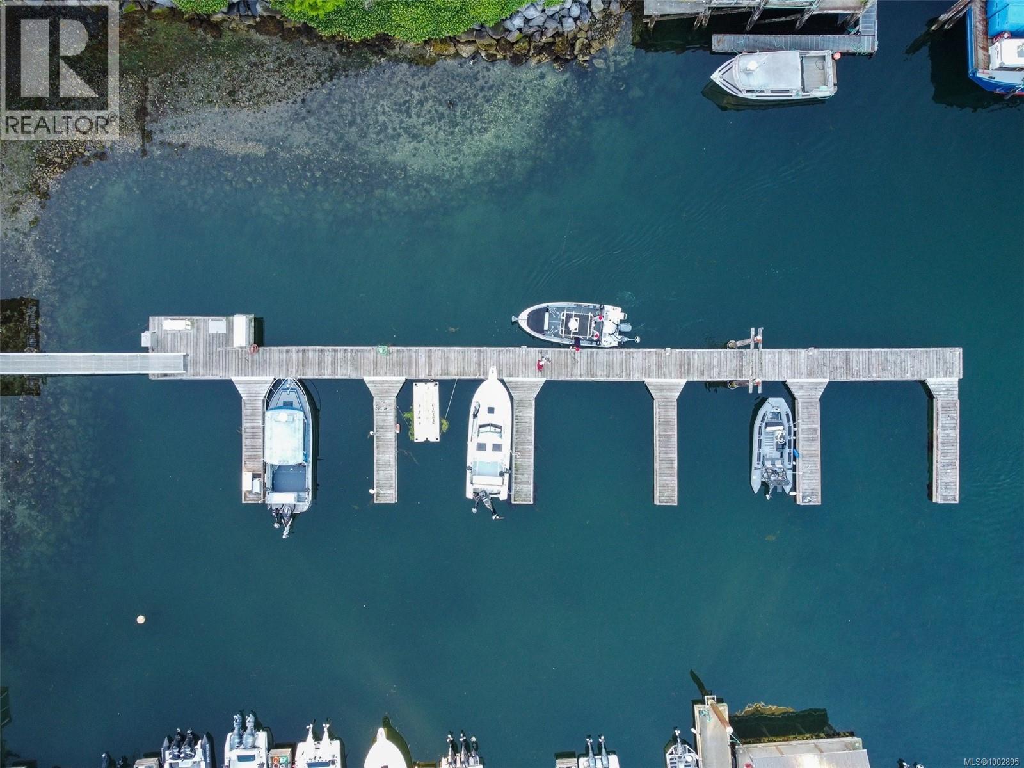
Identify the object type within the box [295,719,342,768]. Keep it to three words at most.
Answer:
boat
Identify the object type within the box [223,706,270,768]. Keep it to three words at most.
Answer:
boat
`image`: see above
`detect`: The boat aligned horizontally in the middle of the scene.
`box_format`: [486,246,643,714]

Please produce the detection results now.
[511,302,637,347]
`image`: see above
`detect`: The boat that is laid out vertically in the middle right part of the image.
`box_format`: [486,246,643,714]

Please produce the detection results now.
[752,397,793,497]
